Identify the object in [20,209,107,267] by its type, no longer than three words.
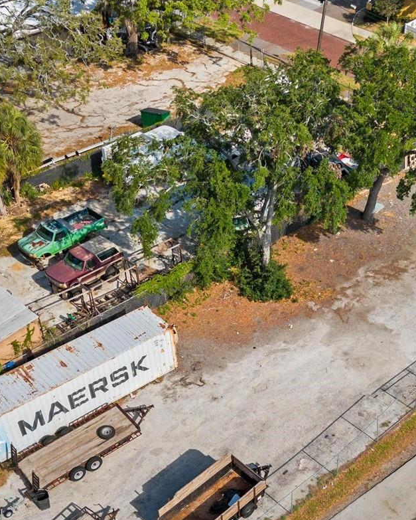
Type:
truck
